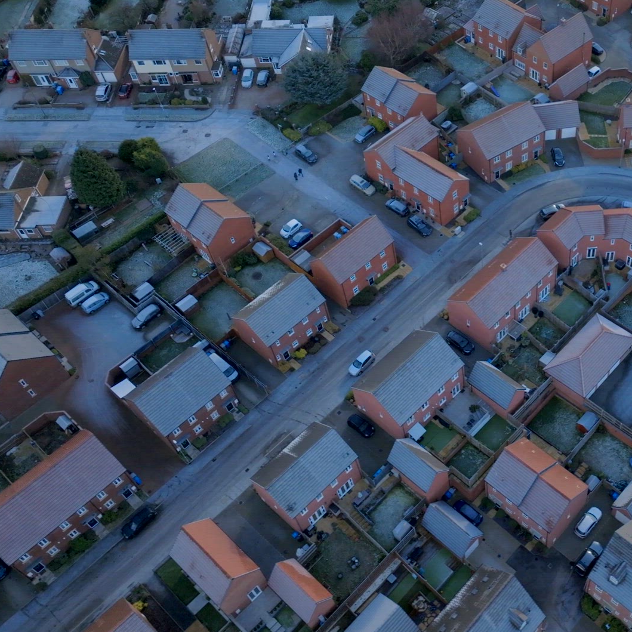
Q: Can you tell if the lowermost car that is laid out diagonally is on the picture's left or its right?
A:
right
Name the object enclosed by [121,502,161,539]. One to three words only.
car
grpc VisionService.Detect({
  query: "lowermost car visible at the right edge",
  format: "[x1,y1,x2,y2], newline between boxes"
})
[570,541,604,581]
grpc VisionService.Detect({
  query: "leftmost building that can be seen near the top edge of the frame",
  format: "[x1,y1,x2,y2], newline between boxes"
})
[8,22,105,87]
